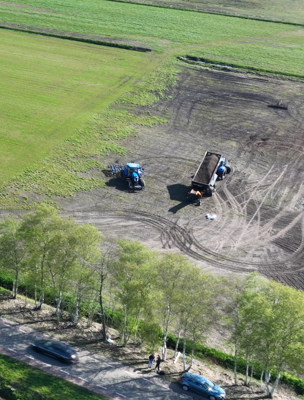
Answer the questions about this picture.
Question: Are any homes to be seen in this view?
No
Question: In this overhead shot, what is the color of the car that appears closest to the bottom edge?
blue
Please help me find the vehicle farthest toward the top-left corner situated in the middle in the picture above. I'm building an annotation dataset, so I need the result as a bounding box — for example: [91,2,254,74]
[121,160,150,188]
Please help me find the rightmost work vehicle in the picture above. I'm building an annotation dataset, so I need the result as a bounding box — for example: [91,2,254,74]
[213,153,232,182]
